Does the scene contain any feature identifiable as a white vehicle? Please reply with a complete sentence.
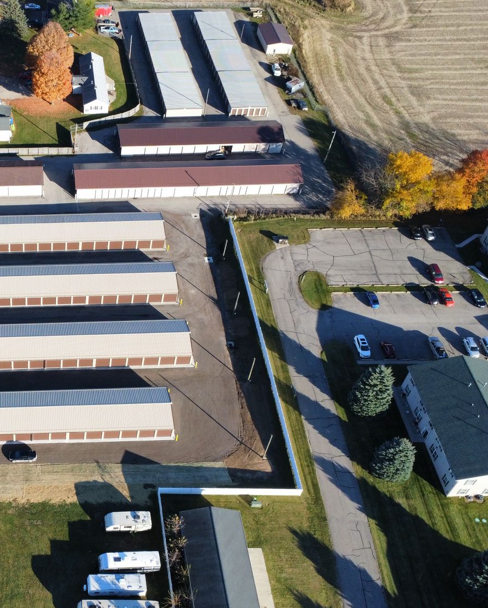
Yes, I can see a white vehicle in this picture.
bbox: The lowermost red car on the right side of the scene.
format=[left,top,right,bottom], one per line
[437,289,455,306]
